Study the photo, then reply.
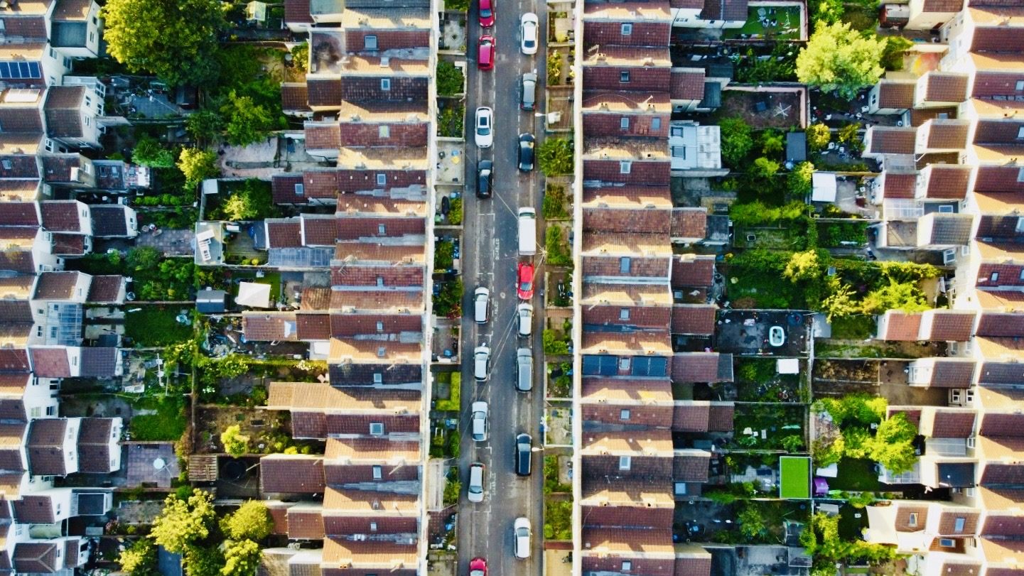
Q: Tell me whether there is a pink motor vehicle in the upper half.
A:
Yes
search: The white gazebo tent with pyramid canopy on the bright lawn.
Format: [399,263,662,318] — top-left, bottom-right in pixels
[236,282,277,309]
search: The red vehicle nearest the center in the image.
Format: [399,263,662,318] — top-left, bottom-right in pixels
[517,263,535,299]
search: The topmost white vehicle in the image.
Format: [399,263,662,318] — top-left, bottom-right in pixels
[520,15,538,56]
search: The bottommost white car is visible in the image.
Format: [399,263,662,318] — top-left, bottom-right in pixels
[513,516,532,559]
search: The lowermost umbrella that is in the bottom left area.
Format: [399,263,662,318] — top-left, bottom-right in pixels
[155,456,173,469]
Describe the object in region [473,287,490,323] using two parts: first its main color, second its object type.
white car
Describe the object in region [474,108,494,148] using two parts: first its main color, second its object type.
white car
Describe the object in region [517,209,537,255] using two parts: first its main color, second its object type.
white vehicle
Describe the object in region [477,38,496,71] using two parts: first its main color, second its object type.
pink car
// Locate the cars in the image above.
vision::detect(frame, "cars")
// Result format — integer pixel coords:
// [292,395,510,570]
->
[473,346,491,381]
[515,347,533,391]
[476,161,494,198]
[514,432,531,476]
[520,15,538,56]
[516,303,533,337]
[474,108,494,148]
[477,38,496,71]
[467,462,485,502]
[478,0,495,29]
[521,75,537,111]
[473,287,490,323]
[468,554,487,576]
[513,516,532,559]
[517,263,535,299]
[470,401,489,441]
